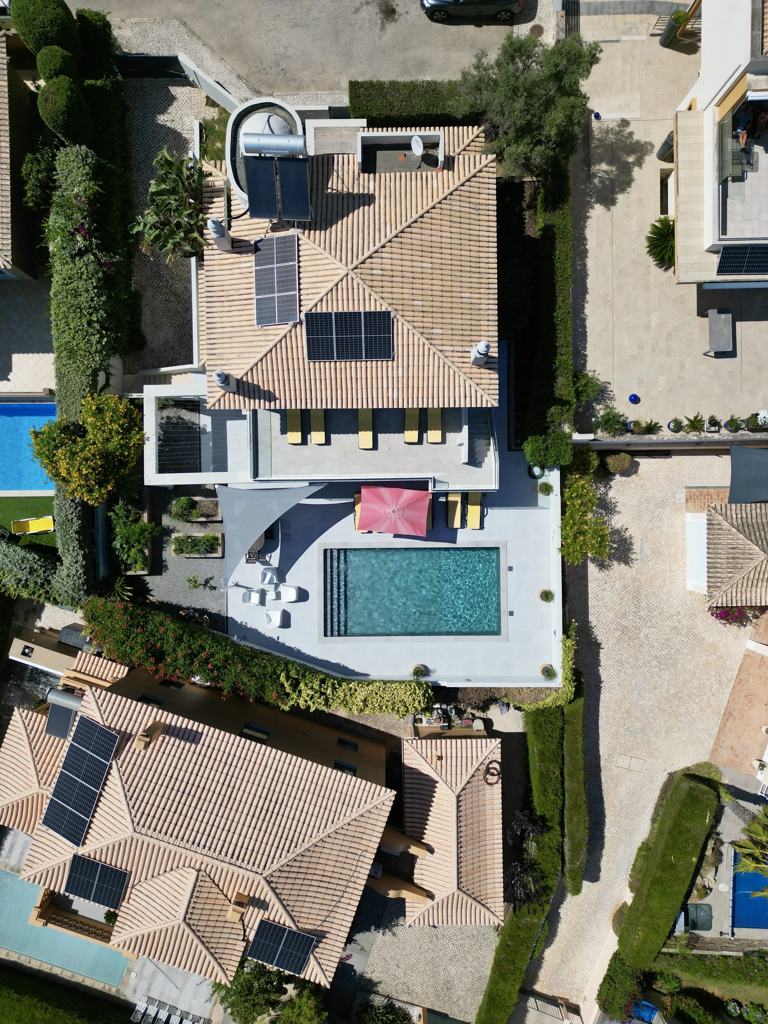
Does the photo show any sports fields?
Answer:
No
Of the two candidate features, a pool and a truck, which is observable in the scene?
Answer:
pool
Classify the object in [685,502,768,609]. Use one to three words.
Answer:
shed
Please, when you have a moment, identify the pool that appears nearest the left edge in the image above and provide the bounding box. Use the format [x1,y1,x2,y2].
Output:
[0,400,62,498]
